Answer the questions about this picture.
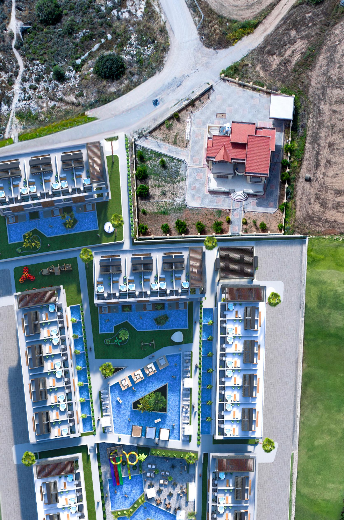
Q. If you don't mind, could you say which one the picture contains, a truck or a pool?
pool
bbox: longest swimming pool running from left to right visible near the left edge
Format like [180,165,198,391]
[5,203,99,244]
